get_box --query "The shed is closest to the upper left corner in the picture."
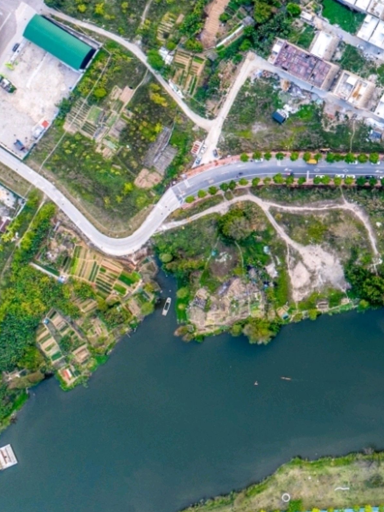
[21,15,100,70]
